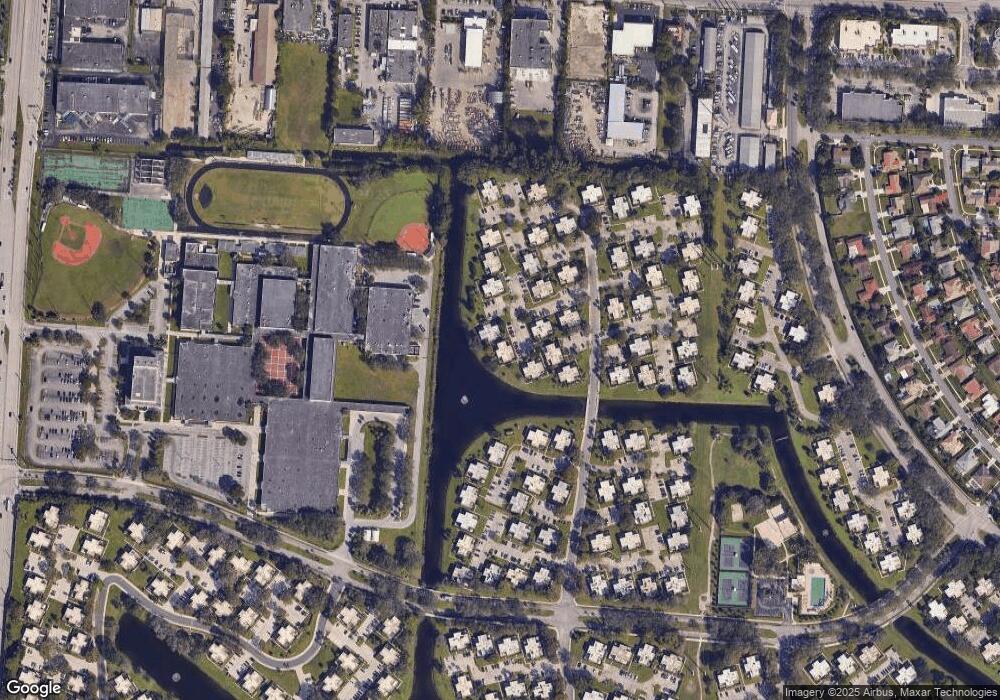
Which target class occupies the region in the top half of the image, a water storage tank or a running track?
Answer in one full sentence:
The one visible in the top half of the image is a running track.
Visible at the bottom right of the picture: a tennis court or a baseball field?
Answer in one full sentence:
What appears at the bottom right of the picture is a tennis court.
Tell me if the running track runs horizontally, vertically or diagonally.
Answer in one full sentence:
The running track is laid out horizontally.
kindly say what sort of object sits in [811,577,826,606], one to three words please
swimming pool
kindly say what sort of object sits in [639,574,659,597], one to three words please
house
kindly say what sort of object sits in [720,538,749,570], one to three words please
tennis court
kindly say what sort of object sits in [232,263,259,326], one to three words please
building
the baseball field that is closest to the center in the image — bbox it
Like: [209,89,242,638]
[365,190,430,255]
